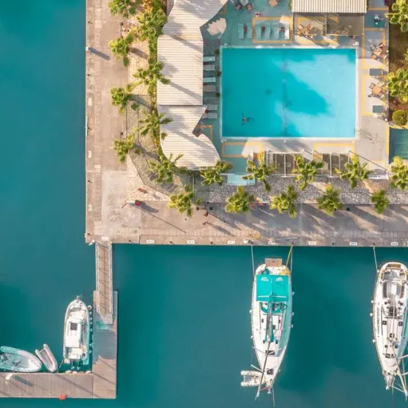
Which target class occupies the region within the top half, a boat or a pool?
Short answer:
pool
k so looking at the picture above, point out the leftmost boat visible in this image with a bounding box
[0,347,41,373]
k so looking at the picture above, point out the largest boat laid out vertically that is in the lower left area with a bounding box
[57,297,93,372]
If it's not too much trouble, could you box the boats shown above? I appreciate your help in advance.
[37,345,56,372]
[241,371,264,386]
[0,347,41,373]
[370,248,408,398]
[249,243,293,406]
[57,297,93,372]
